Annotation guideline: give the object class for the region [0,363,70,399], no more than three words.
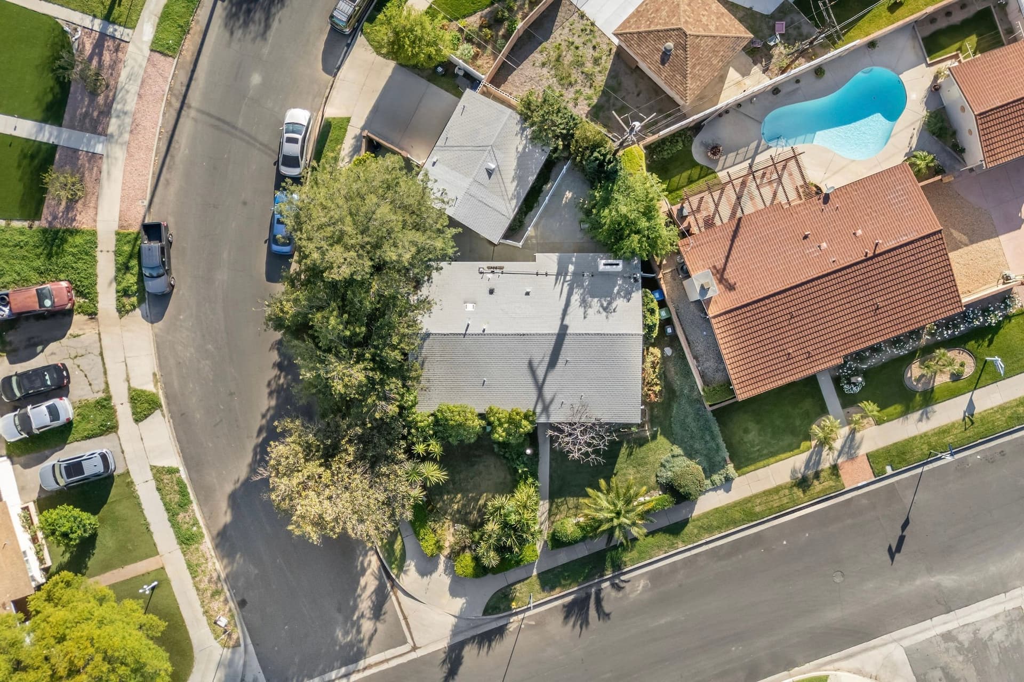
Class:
car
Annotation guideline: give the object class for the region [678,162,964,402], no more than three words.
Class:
house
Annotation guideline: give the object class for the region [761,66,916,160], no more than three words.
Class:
swimming pool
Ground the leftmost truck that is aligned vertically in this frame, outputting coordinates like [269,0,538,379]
[137,221,174,295]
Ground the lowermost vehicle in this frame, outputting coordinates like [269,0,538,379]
[36,447,114,489]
